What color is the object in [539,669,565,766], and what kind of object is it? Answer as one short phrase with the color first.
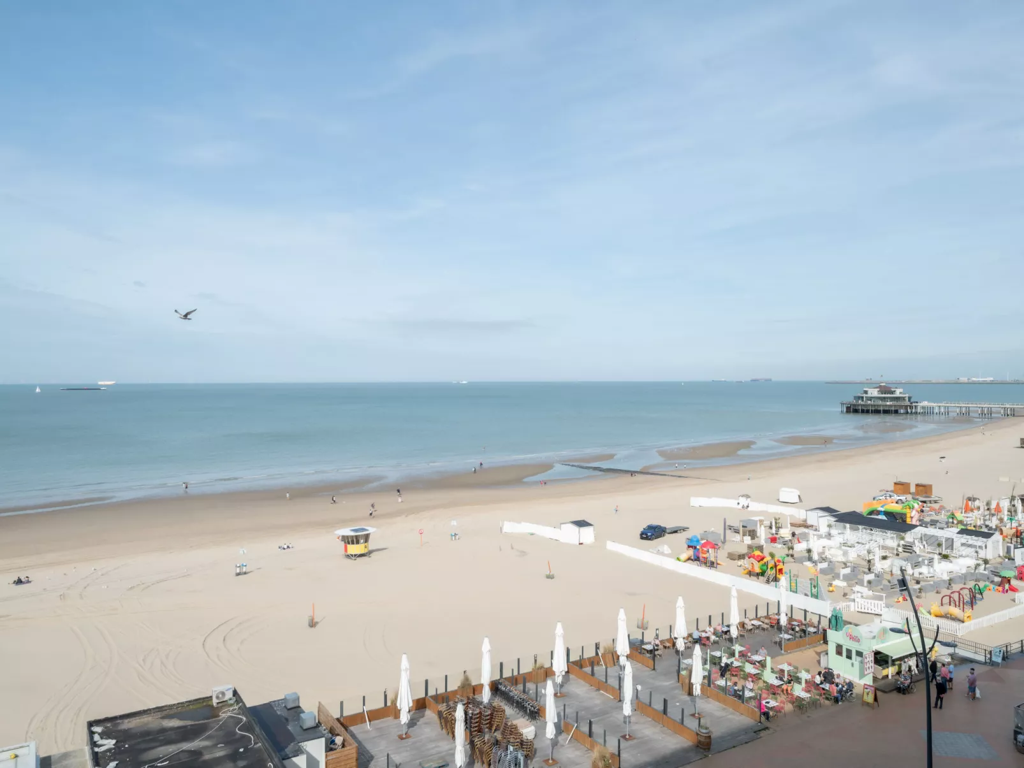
white umbrella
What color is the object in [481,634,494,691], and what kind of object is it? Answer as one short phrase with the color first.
white umbrella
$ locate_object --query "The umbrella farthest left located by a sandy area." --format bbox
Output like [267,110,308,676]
[394,650,415,741]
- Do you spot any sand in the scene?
Yes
